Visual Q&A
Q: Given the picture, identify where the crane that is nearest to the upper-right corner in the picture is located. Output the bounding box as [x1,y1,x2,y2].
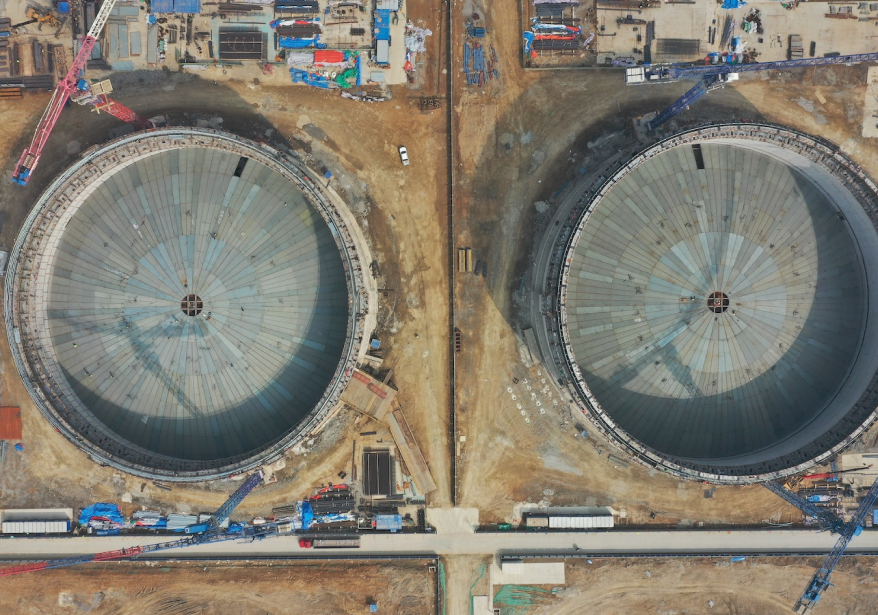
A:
[623,53,878,138]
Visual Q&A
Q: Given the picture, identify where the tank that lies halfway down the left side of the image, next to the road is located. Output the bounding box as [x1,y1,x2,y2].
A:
[1,124,376,483]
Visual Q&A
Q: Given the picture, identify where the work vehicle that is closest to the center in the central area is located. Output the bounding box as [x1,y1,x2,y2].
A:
[370,254,382,278]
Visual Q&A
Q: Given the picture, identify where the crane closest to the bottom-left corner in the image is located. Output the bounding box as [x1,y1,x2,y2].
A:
[0,463,304,573]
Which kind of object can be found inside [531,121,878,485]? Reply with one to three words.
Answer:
storage tank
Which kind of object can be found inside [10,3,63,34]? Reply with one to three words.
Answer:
crane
